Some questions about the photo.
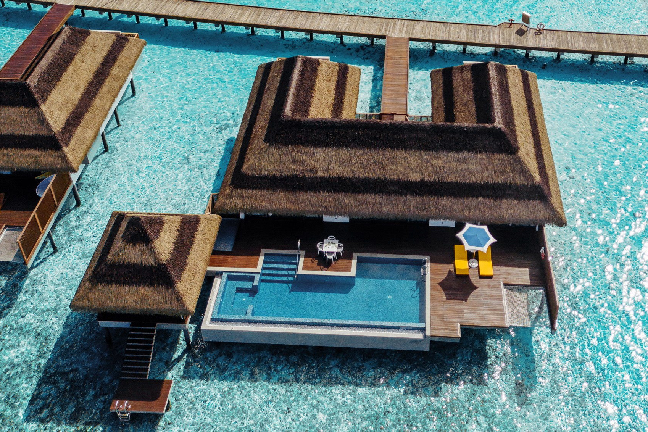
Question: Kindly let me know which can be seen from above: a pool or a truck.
pool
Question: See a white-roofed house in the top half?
No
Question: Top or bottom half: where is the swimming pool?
bottom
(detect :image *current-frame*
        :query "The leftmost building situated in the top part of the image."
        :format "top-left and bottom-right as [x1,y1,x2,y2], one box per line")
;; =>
[0,24,147,214]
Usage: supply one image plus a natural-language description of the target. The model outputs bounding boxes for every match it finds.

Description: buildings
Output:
[0,24,147,214]
[213,50,568,231]
[67,208,224,354]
